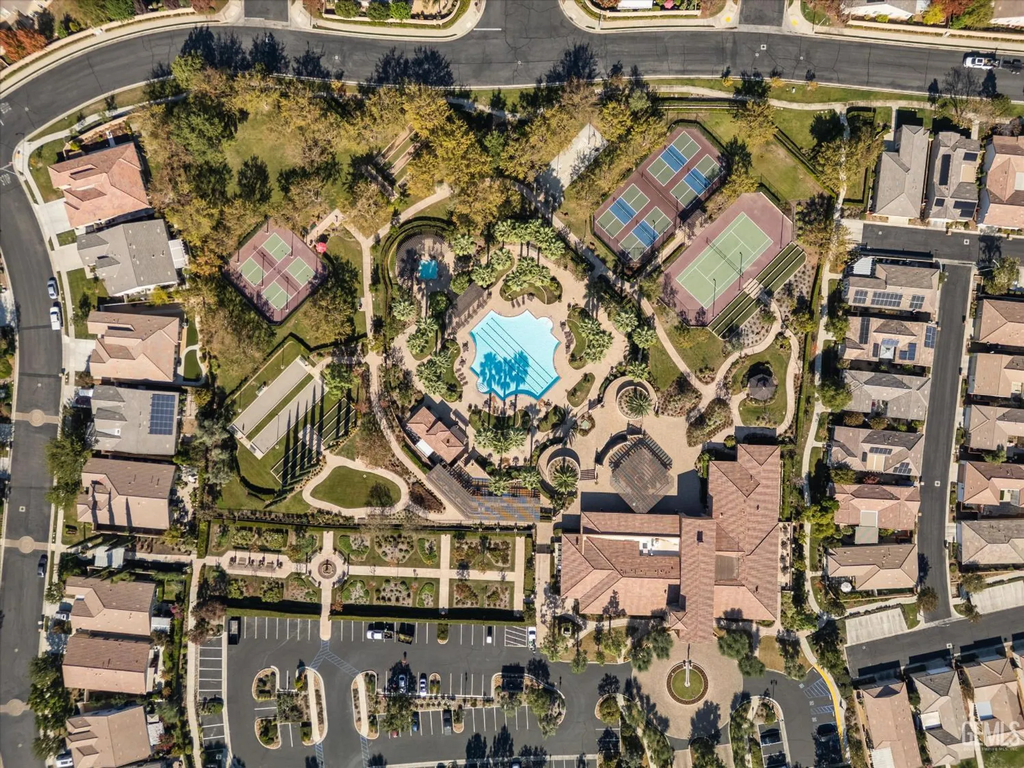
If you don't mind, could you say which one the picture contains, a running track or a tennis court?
tennis court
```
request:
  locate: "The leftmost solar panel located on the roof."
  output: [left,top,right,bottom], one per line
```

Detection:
[150,394,175,435]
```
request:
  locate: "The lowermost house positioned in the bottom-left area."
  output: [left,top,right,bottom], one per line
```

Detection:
[65,703,156,768]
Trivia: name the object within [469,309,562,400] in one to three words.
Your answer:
swimming pool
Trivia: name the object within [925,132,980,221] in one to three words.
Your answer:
house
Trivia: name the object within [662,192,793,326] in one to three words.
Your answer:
tennis court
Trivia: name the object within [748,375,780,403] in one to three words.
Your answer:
gazebo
